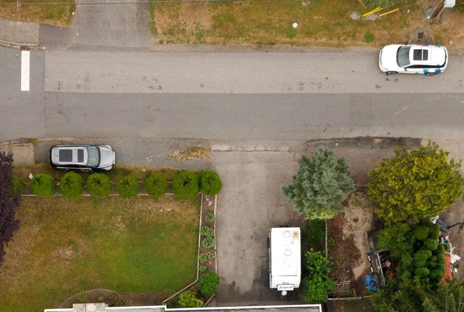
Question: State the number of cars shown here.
2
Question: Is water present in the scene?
No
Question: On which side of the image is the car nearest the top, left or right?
right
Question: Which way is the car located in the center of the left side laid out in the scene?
from left to right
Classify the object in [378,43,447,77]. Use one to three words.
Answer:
car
